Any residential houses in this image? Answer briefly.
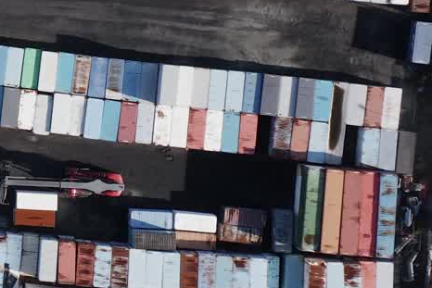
No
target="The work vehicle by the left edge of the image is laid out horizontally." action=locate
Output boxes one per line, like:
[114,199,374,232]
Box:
[0,158,125,202]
